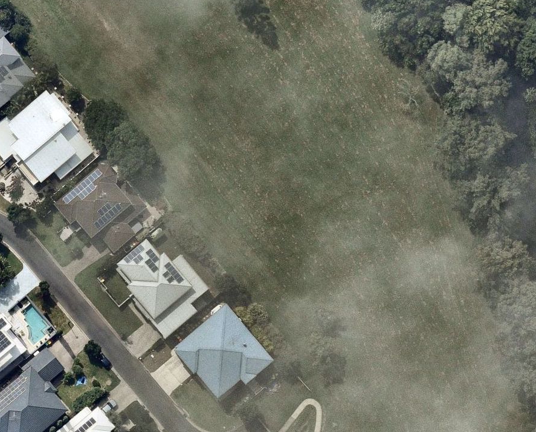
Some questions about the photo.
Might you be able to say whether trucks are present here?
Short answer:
No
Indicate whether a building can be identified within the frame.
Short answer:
Yes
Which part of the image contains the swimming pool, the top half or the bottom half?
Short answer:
bottom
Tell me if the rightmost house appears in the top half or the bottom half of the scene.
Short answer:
bottom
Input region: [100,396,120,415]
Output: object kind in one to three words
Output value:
car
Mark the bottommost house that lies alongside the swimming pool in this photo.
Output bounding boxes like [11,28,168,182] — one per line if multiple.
[0,347,69,432]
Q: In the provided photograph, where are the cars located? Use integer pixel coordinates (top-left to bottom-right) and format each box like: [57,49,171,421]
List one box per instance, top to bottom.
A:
[96,350,116,373]
[100,396,120,415]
